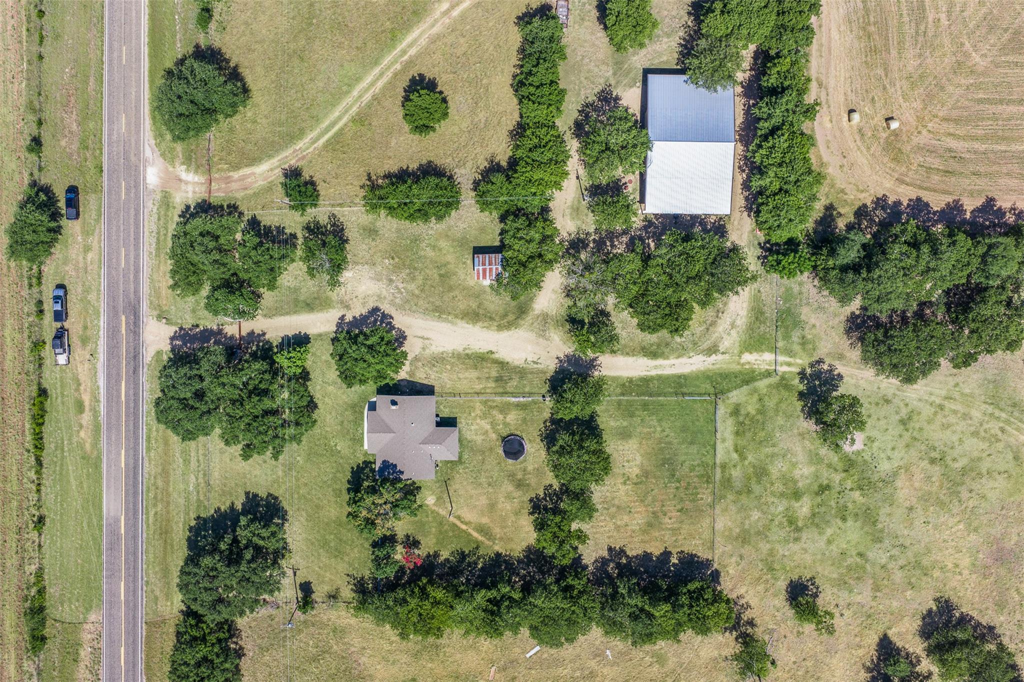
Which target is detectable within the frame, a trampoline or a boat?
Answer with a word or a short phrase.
trampoline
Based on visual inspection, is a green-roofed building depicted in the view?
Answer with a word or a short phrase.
No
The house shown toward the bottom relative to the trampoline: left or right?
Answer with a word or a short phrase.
on its left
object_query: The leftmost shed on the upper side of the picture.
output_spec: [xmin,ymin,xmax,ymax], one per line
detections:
[475,254,509,281]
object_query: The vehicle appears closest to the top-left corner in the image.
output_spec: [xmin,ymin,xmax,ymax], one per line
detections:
[63,188,80,223]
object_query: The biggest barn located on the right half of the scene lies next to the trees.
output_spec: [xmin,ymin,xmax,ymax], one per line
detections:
[641,74,735,218]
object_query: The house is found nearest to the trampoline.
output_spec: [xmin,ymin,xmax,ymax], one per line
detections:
[365,395,458,482]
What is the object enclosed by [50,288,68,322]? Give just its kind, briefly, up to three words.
vehicle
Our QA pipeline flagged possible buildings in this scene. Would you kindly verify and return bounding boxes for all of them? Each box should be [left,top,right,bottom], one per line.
[641,74,735,218]
[475,254,509,281]
[365,395,458,482]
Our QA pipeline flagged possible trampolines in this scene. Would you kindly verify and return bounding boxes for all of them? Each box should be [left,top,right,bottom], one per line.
[502,435,526,459]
